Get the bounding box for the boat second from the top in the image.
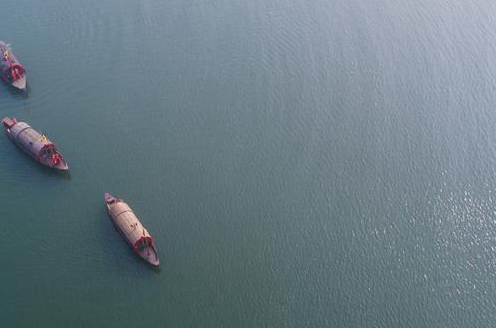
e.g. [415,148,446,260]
[0,116,71,176]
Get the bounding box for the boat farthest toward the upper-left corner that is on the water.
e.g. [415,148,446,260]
[0,46,29,95]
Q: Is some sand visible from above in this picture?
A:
No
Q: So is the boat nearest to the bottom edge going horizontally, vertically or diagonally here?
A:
diagonally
